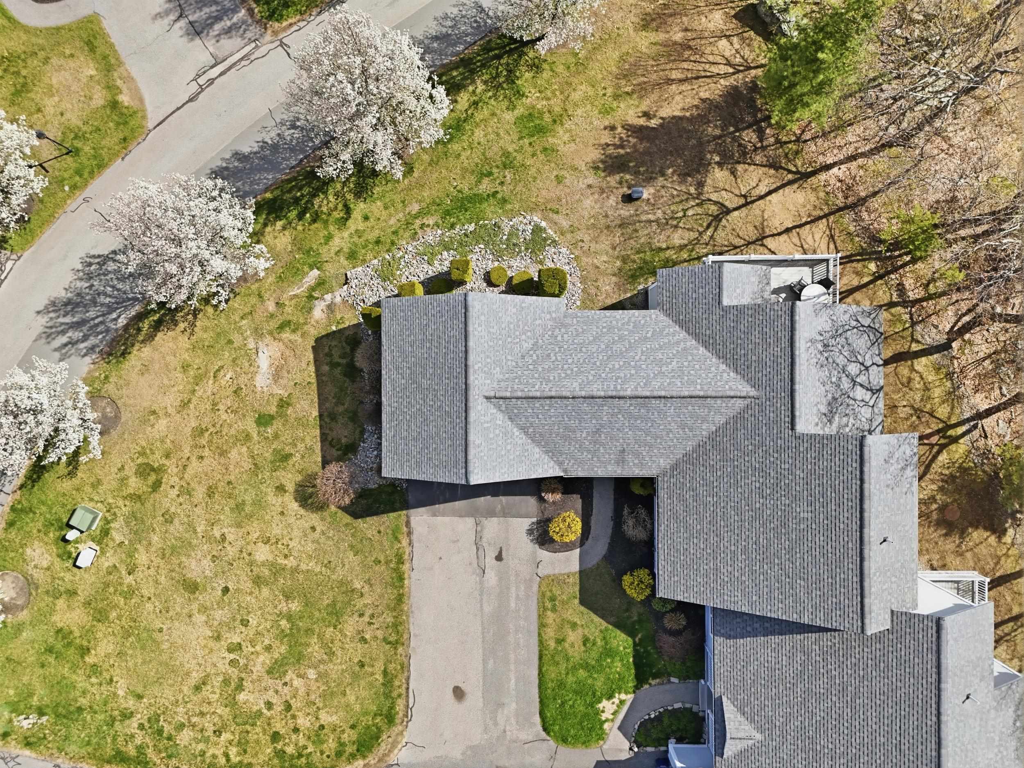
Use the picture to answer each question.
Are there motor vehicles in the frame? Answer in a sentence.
No, this view has no motor vehicle in it.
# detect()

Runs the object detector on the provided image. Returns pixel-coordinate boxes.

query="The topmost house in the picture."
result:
[380,262,919,636]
